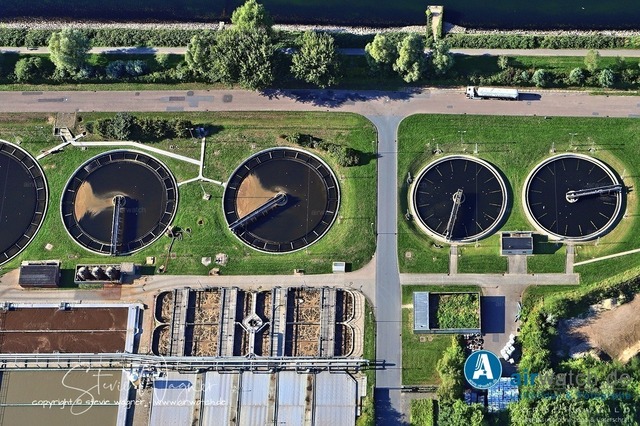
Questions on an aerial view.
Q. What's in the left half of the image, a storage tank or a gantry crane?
storage tank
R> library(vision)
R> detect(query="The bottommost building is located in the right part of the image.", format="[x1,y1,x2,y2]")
[413,291,483,334]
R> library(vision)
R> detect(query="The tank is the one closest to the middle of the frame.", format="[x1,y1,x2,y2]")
[222,147,339,254]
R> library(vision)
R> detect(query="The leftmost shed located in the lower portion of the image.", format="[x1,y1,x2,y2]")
[18,261,61,287]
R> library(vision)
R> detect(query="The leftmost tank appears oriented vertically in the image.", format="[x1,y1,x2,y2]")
[0,150,48,254]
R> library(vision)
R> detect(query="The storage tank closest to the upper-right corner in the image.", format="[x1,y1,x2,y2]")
[524,152,624,242]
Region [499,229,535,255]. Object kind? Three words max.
building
